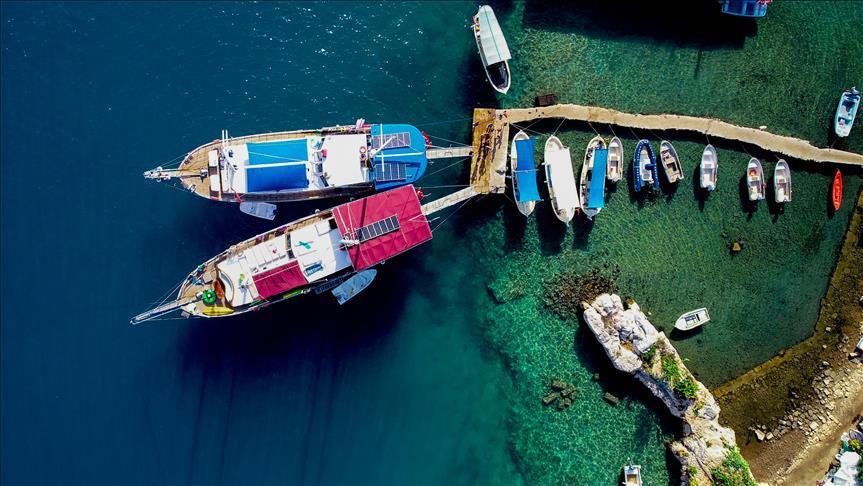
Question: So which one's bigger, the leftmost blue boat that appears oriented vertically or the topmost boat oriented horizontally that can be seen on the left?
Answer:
the topmost boat oriented horizontally that can be seen on the left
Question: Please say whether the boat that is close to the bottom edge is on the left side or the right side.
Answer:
right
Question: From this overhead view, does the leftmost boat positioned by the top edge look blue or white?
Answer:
white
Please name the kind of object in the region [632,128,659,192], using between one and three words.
boat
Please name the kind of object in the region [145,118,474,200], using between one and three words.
boat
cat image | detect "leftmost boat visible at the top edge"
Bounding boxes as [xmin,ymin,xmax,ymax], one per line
[473,2,512,94]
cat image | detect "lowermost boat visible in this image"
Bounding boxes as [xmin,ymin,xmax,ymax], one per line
[622,460,643,486]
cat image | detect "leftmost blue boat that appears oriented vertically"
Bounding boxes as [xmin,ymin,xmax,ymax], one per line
[507,118,549,220]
